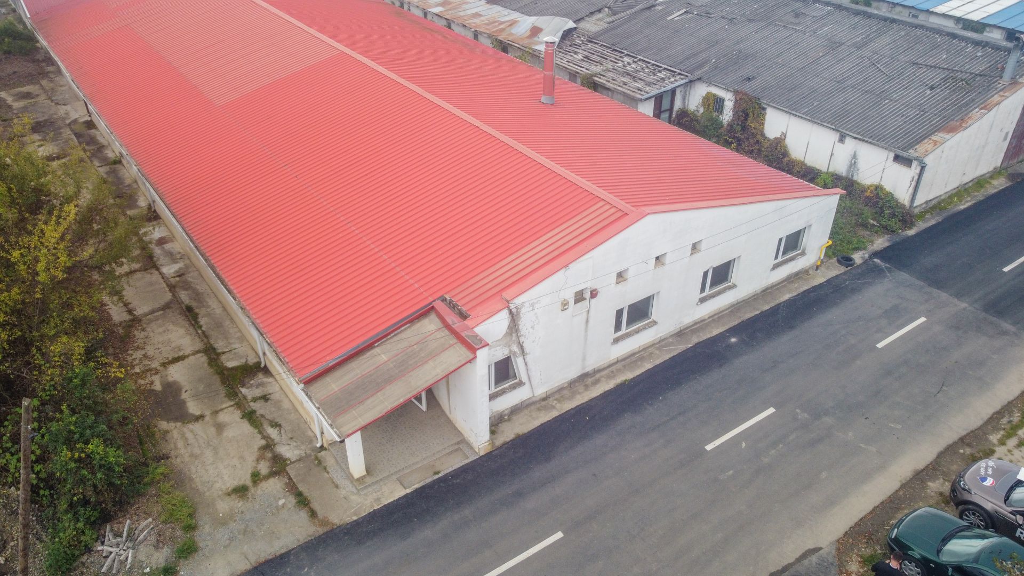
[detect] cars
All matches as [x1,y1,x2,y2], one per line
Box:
[884,506,1024,576]
[950,455,1024,540]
